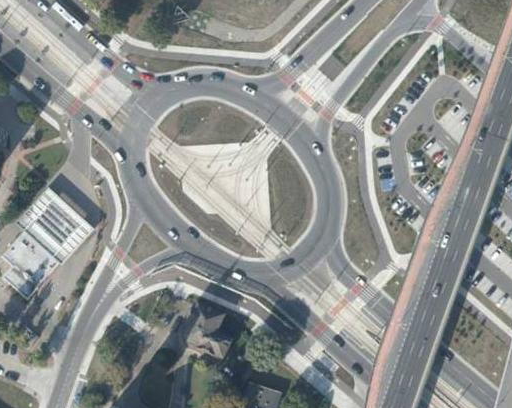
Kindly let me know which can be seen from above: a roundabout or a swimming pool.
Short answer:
roundabout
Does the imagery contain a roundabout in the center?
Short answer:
Yes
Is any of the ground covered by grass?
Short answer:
Yes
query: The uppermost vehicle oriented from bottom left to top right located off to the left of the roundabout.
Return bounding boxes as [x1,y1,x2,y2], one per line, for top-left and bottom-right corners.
[53,297,66,312]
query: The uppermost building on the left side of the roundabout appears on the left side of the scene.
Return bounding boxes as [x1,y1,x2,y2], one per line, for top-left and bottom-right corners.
[17,188,93,263]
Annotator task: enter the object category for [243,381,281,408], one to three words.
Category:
house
